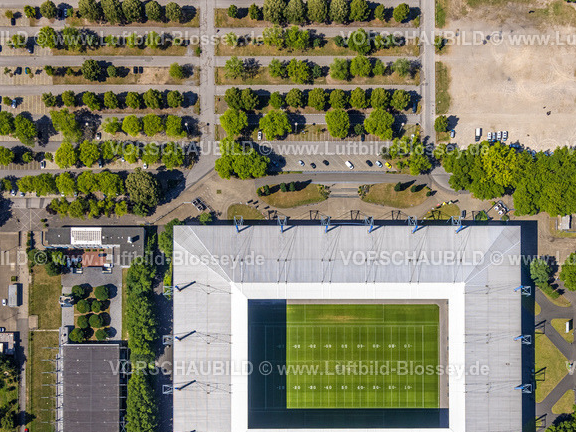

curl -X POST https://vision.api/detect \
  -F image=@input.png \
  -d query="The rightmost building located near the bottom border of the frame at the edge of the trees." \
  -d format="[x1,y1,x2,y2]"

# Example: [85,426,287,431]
[41,344,128,432]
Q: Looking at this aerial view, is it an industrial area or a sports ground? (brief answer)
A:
sports ground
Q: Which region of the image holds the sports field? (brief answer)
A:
bottom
